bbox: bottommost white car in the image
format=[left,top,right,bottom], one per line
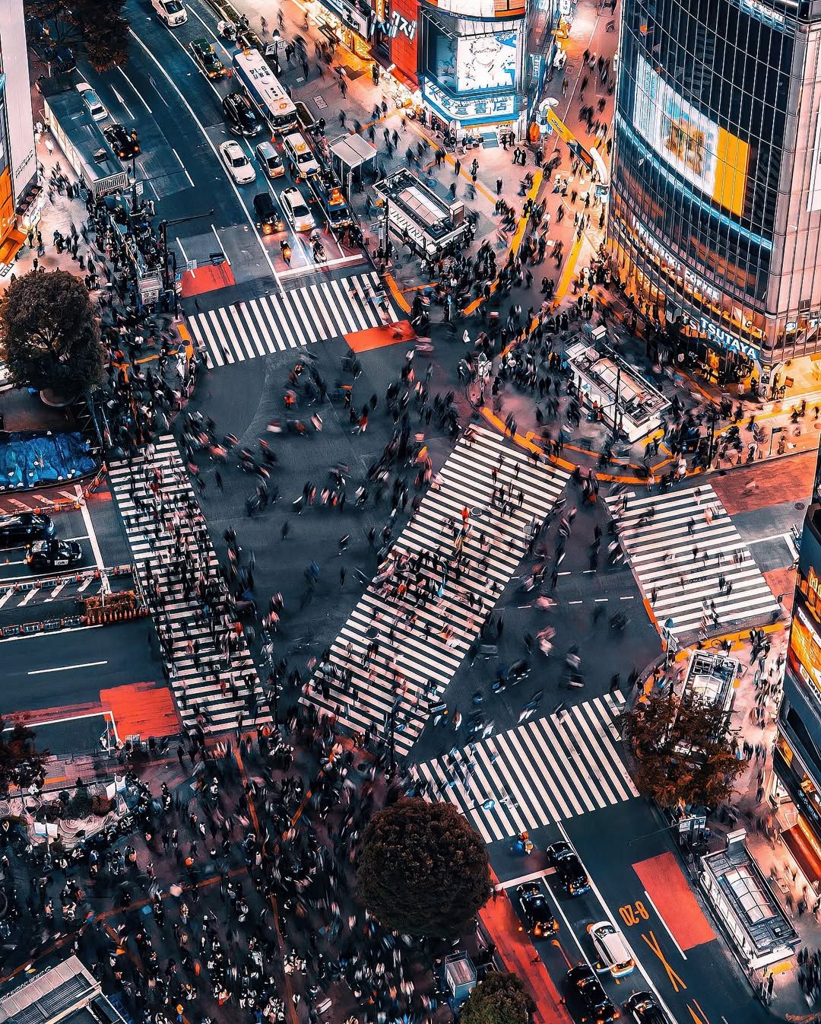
[592,918,637,979]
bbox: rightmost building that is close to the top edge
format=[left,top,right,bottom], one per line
[604,0,821,406]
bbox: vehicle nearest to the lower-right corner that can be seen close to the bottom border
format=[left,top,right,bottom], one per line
[631,983,673,1024]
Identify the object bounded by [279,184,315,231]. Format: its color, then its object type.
white car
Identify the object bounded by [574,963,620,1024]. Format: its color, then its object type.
black car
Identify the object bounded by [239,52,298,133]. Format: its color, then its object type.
white bus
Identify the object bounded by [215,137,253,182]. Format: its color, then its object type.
white car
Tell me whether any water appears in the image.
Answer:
No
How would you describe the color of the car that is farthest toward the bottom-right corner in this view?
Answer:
black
